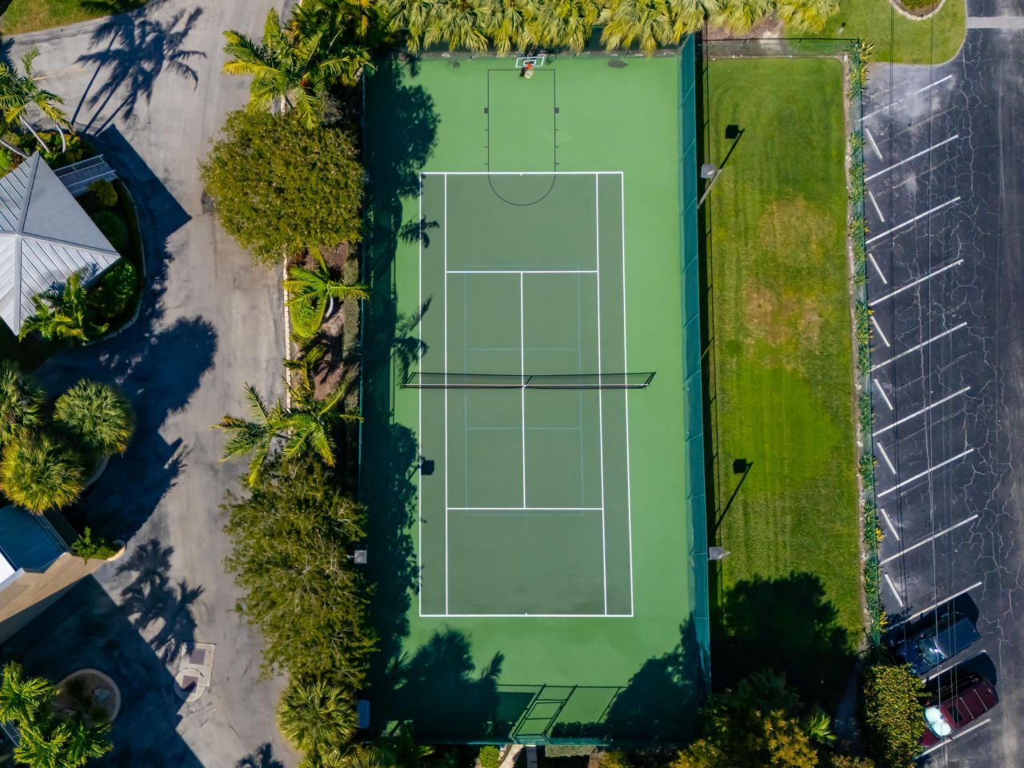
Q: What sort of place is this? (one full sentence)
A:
It's a sports ground.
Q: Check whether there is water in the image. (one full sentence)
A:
No, there is no water in the image.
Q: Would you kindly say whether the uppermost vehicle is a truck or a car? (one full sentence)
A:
What you see as the uppermost vehicle is a car.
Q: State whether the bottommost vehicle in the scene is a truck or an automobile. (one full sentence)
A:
The bottommost vehicle in the image is an automobile.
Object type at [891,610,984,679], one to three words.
car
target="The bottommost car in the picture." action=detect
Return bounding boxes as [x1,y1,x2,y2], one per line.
[918,674,1003,749]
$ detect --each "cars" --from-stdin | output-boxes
[918,674,1003,749]
[891,610,984,679]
